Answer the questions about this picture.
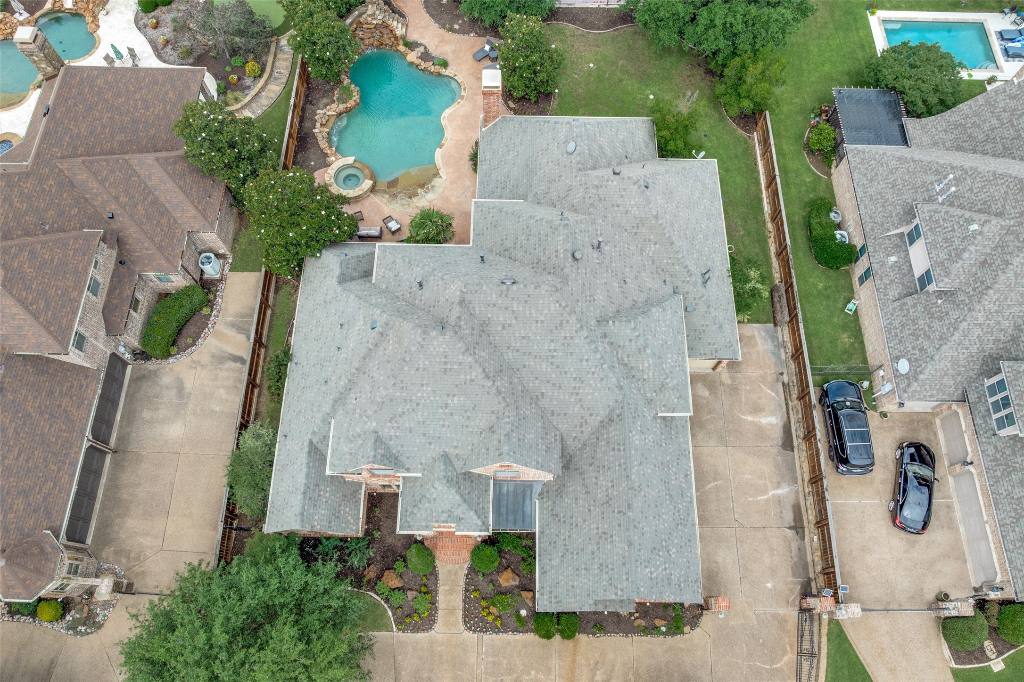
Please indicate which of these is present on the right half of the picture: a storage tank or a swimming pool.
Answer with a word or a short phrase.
swimming pool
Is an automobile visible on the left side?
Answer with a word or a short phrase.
No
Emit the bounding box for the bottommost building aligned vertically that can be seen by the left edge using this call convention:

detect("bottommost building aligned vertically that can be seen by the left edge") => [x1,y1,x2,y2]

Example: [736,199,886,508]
[0,18,242,603]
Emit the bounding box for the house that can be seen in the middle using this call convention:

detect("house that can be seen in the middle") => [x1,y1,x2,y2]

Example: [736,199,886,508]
[263,65,743,615]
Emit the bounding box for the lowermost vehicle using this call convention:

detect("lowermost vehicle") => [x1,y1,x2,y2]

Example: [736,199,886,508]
[888,436,944,536]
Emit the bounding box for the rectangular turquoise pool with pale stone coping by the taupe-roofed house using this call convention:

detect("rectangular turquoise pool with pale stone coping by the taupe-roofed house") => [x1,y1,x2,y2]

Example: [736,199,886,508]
[877,16,1005,72]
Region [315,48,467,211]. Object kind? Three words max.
swimming pool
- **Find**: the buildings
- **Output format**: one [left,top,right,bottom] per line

[263,65,743,615]
[0,18,242,603]
[834,57,1024,602]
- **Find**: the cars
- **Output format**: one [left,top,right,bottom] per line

[819,379,880,476]
[888,436,944,536]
